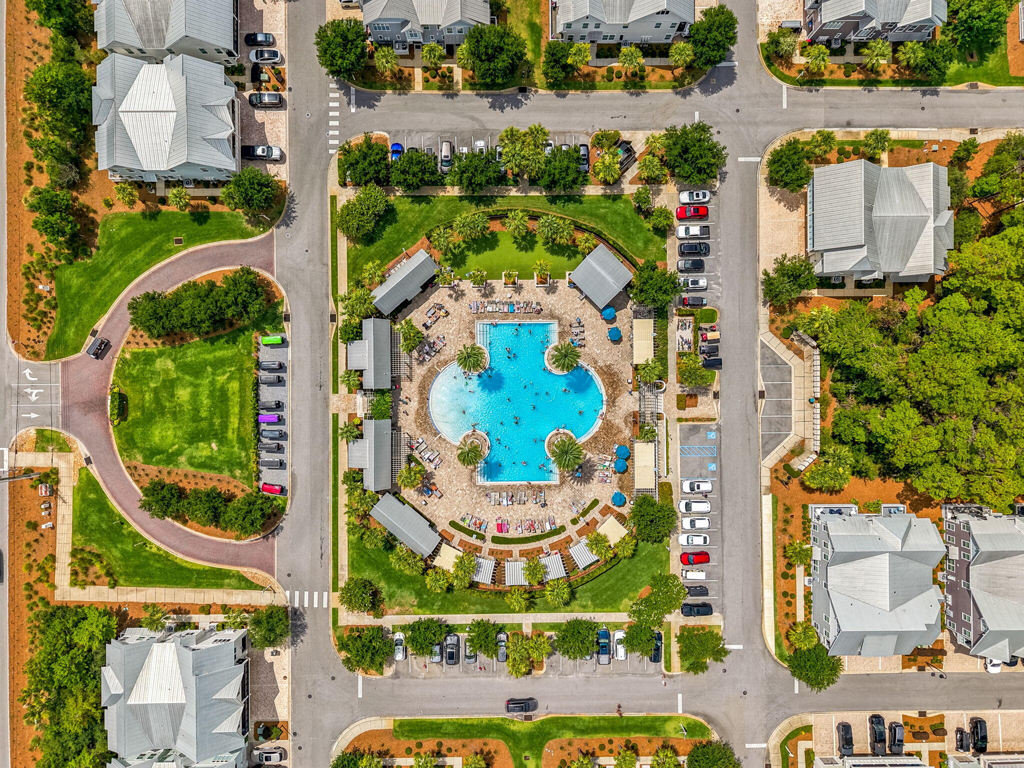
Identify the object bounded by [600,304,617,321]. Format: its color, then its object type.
blue umbrella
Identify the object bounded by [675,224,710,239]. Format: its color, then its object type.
white vehicle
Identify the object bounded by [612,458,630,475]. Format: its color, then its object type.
blue umbrella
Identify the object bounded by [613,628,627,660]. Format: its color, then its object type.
white car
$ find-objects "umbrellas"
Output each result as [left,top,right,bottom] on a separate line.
[611,491,628,508]
[612,458,630,475]
[606,325,624,343]
[615,444,632,460]
[600,304,617,321]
